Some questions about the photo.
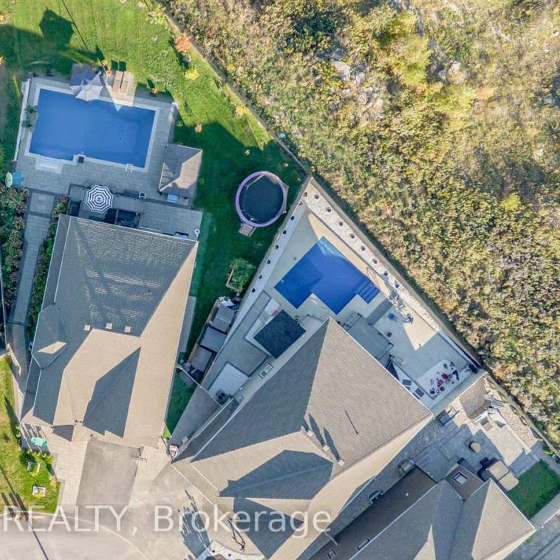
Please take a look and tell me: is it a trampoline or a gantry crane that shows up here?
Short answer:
trampoline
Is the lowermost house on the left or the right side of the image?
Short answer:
right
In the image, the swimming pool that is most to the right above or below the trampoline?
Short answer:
below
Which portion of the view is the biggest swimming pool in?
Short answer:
top left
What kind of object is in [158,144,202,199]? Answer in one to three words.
gazebo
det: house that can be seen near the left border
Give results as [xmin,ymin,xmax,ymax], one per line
[20,214,199,449]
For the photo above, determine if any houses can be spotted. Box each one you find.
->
[171,318,433,560]
[304,464,536,560]
[20,214,199,449]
